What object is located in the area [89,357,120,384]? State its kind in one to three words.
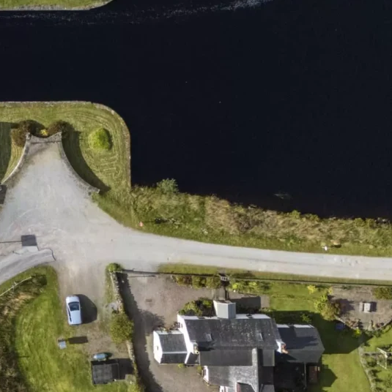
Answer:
shed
